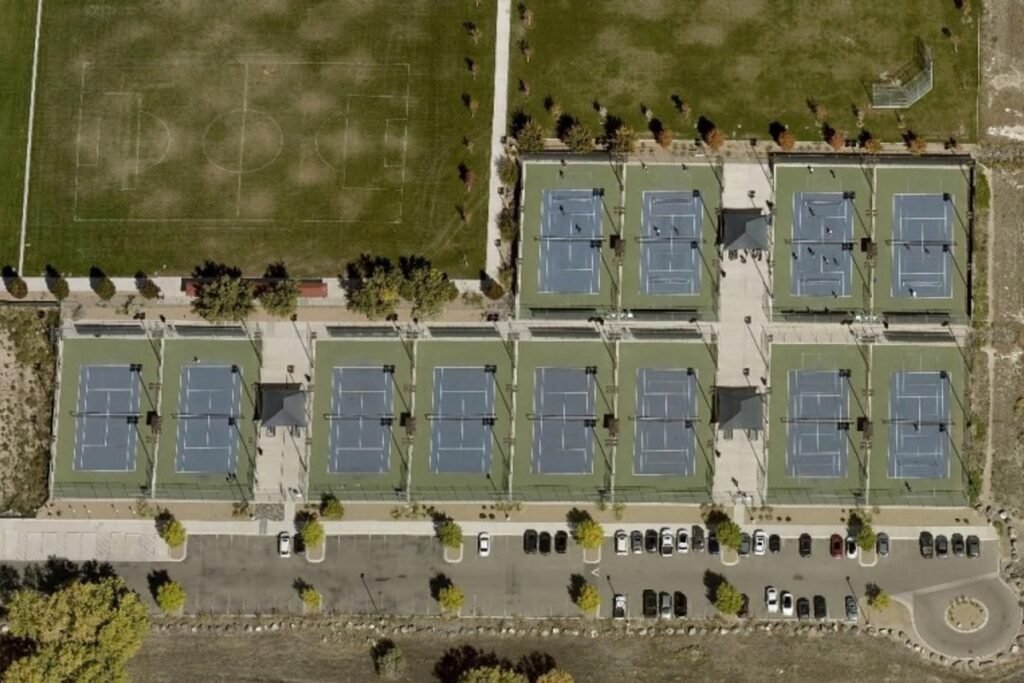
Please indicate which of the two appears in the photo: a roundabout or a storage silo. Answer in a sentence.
I can see a roundabout in this picture.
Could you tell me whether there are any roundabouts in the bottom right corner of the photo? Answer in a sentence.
Yes, looking in the bottom right corner of the photo, one can make out a roundabout.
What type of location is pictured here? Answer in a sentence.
This looks like a sports ground.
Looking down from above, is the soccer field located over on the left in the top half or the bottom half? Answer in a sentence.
You can find the soccer field located over on the left in the top half.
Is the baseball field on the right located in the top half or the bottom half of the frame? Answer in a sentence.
The top half of the photo is where the baseball field on the right is.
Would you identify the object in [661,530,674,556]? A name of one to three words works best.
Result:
vehicle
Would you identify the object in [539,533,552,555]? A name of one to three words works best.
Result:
vehicle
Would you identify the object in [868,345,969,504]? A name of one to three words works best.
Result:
tennis court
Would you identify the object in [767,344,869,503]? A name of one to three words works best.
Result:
tennis court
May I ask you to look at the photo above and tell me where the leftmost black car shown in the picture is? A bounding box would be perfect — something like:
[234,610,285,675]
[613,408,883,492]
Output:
[293,535,305,558]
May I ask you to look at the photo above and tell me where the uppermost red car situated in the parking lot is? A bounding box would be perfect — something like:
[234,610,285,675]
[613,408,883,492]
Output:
[830,535,843,557]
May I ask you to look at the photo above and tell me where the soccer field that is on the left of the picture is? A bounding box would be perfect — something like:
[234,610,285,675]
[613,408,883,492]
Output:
[25,0,497,278]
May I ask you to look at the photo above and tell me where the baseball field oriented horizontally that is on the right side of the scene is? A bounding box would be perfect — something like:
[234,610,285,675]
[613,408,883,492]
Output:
[504,0,979,142]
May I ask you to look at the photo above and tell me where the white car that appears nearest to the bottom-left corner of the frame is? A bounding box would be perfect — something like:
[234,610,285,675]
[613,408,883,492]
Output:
[279,534,292,557]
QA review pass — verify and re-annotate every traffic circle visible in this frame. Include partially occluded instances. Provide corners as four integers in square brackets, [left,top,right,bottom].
[909,569,1023,660]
